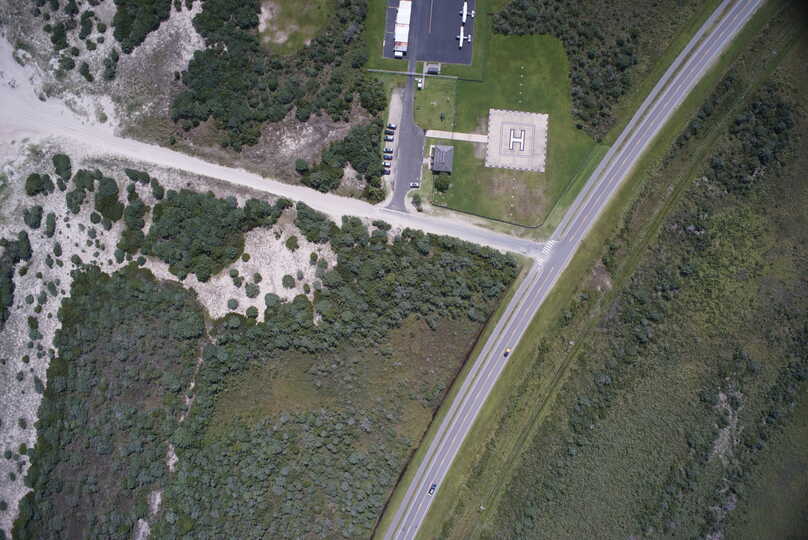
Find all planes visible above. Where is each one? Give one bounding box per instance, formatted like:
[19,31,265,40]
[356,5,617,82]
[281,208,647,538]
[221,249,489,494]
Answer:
[455,26,472,47]
[458,2,475,22]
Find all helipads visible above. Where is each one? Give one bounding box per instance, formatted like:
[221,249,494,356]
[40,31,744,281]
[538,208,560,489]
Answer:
[485,108,549,172]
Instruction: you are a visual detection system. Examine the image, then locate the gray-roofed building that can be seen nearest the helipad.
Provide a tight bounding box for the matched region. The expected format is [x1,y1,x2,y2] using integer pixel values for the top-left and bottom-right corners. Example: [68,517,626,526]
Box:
[432,145,454,171]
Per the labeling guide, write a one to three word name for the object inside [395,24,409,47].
hangar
